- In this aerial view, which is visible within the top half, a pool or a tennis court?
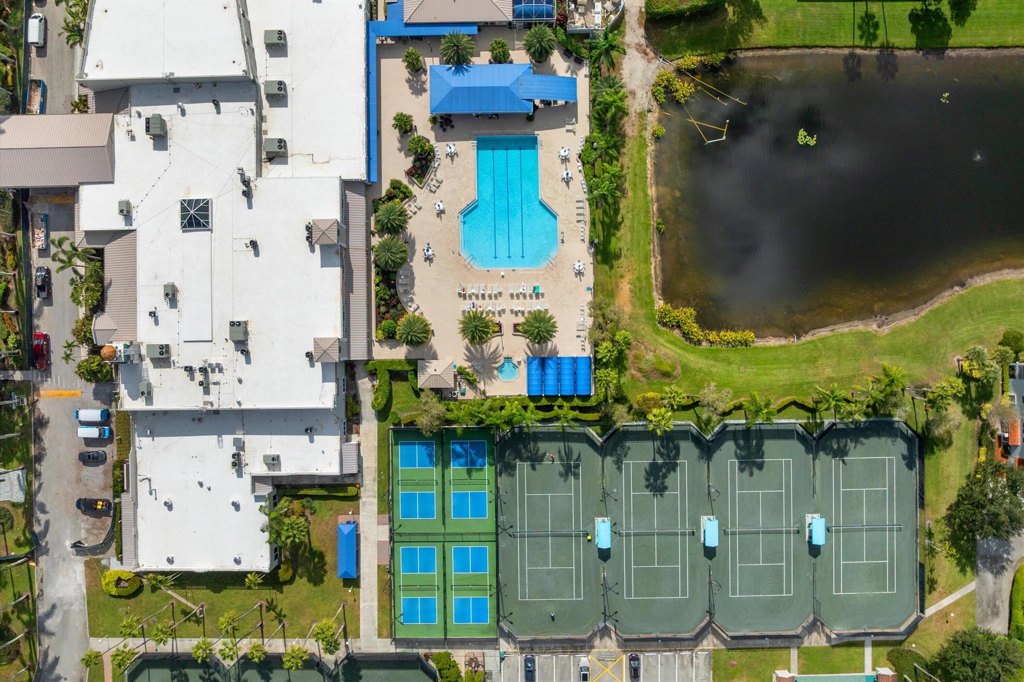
pool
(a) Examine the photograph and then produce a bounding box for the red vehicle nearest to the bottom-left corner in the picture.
[32,333,51,370]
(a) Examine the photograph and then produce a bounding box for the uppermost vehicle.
[27,15,47,49]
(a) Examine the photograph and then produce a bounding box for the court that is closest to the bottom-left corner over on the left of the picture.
[124,653,226,682]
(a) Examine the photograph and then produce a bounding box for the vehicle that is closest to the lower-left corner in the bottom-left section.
[77,498,113,513]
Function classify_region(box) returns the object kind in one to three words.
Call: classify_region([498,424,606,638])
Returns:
tennis court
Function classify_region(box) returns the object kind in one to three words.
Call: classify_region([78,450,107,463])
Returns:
vehicle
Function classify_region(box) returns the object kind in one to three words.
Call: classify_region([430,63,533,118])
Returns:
building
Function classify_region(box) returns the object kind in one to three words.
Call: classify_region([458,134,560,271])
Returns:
swimming pool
